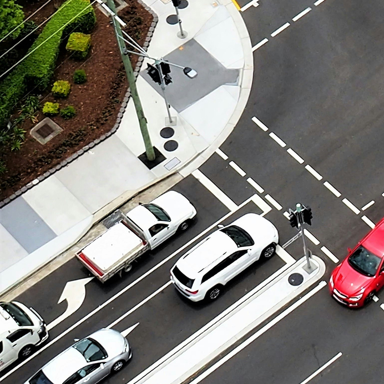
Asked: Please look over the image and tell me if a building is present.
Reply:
No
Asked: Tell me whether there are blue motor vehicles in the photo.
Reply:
No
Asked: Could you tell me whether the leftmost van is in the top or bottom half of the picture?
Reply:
bottom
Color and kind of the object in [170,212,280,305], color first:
white car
